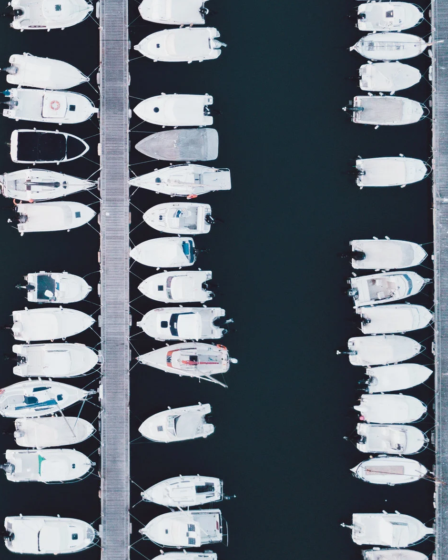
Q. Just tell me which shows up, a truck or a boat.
boat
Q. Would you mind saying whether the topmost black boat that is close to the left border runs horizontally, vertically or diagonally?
horizontally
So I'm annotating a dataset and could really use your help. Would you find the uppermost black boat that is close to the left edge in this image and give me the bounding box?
[8,130,90,164]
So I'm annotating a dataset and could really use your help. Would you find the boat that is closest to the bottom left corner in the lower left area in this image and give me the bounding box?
[0,515,99,555]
